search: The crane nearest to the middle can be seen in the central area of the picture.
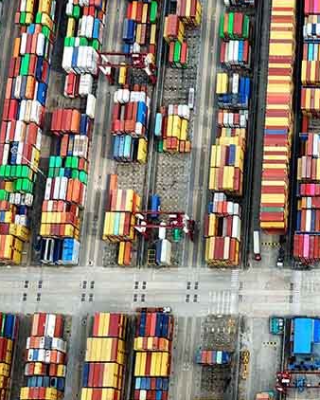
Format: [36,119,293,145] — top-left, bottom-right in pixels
[135,212,209,245]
